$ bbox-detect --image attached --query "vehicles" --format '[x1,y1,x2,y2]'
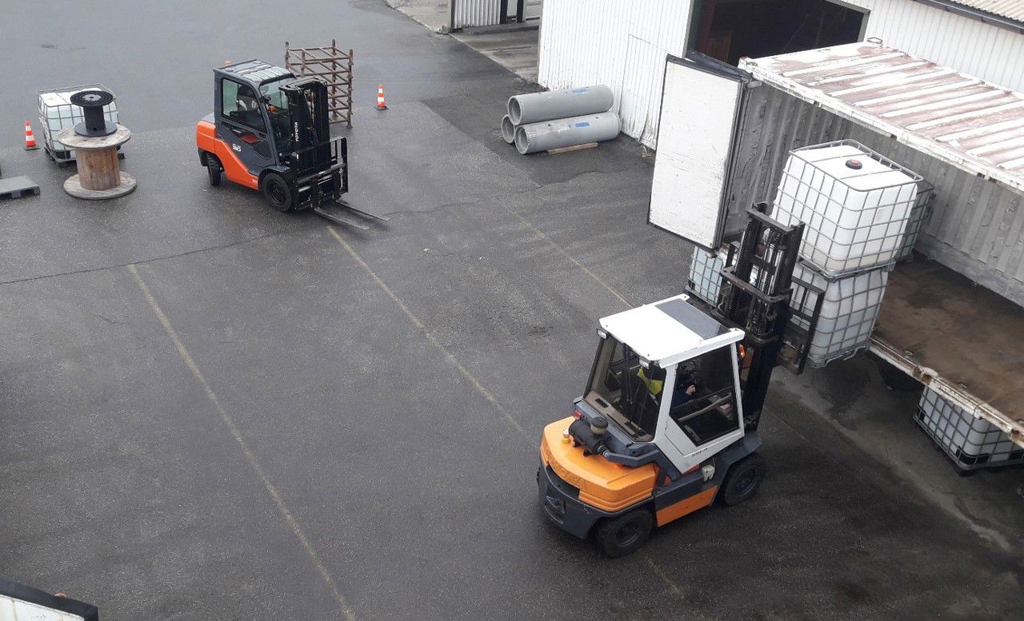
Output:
[200,53,392,231]
[537,200,834,557]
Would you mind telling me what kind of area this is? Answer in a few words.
industrial area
